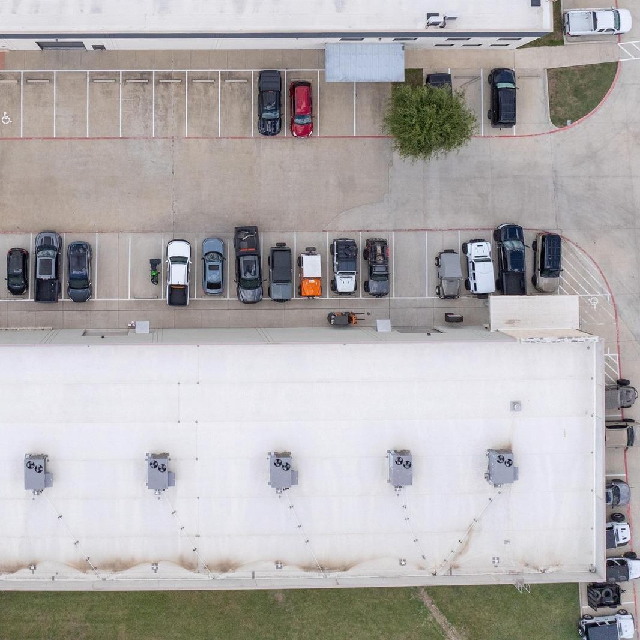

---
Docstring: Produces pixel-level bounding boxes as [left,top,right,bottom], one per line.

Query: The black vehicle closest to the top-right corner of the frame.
[488,68,520,128]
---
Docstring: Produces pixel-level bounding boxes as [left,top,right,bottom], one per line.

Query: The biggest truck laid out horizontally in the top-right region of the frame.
[558,7,632,37]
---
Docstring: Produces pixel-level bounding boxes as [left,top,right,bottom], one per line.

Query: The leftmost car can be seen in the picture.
[4,246,30,295]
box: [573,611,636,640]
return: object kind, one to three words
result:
car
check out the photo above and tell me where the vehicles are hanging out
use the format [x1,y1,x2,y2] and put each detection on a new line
[267,243,294,303]
[330,237,358,294]
[325,311,364,328]
[573,611,636,640]
[603,381,638,411]
[604,420,640,451]
[199,237,227,295]
[461,235,494,298]
[364,235,390,294]
[65,240,94,303]
[605,479,632,509]
[31,228,64,301]
[558,7,632,37]
[297,246,323,298]
[233,225,265,304]
[4,246,30,295]
[490,221,527,295]
[606,551,640,584]
[288,80,316,138]
[163,237,192,306]
[149,258,161,285]
[531,232,564,293]
[256,70,285,137]
[432,245,462,299]
[605,512,633,546]
[488,68,520,128]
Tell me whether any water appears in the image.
No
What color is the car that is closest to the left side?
black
